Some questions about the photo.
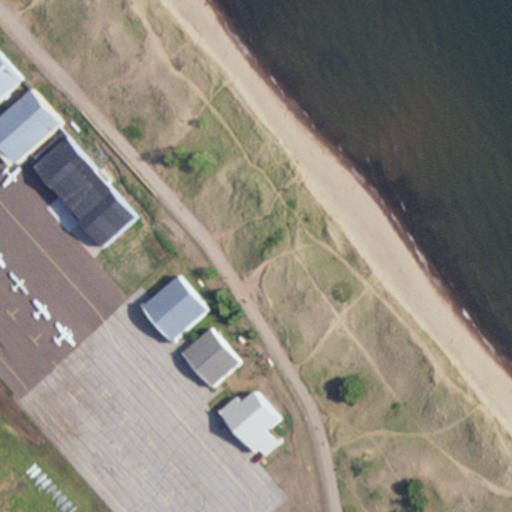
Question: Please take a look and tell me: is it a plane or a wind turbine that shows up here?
plane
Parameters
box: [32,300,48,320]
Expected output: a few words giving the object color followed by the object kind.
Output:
white airplane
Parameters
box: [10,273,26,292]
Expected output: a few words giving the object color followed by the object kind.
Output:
white airplane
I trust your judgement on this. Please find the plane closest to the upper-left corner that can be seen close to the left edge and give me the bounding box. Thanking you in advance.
[2,167,20,186]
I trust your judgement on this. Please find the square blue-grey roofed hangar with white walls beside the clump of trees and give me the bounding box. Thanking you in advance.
[142,274,210,344]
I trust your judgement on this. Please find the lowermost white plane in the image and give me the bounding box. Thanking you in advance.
[54,322,73,344]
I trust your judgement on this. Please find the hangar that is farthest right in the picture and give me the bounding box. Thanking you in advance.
[218,391,282,458]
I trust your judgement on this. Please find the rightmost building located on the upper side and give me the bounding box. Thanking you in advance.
[36,131,136,248]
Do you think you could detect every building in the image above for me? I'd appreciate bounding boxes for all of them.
[0,86,62,166]
[218,391,282,458]
[183,328,241,388]
[142,274,210,344]
[36,131,136,248]
[0,50,24,106]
